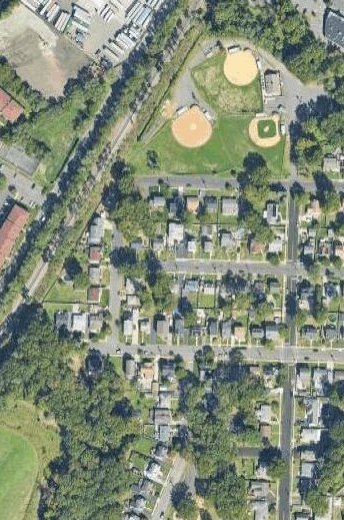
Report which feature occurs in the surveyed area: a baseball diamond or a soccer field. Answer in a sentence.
Looking from above, you can make out a baseball diamond.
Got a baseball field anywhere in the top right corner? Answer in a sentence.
Yes, the scene does show a baseball field in the top right corner.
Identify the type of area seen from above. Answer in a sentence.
It's a residential area.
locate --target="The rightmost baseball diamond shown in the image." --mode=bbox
[249,115,280,148]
